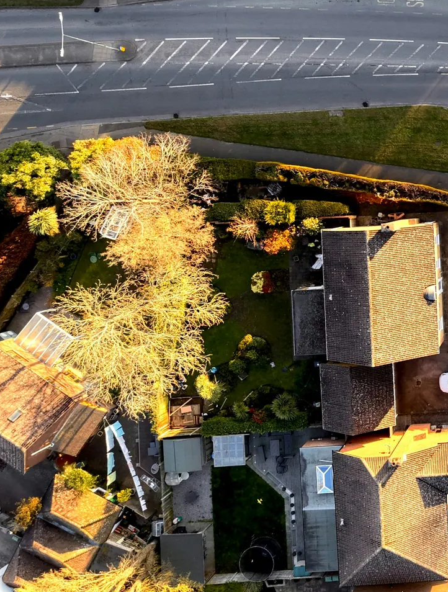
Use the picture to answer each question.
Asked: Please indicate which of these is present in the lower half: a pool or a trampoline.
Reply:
trampoline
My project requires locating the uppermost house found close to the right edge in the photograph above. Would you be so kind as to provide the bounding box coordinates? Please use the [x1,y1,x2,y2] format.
[320,215,445,365]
